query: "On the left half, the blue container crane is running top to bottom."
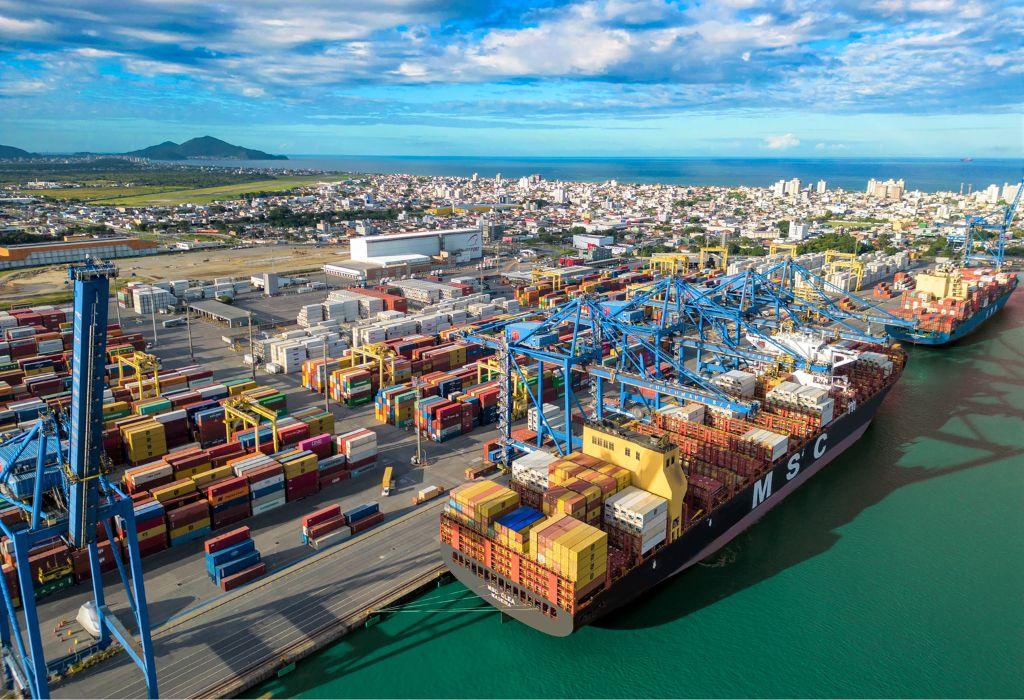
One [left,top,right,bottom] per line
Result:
[0,253,178,700]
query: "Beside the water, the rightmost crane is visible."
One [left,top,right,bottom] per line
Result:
[936,185,1024,269]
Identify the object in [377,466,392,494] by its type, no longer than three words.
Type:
vehicle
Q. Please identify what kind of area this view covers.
port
